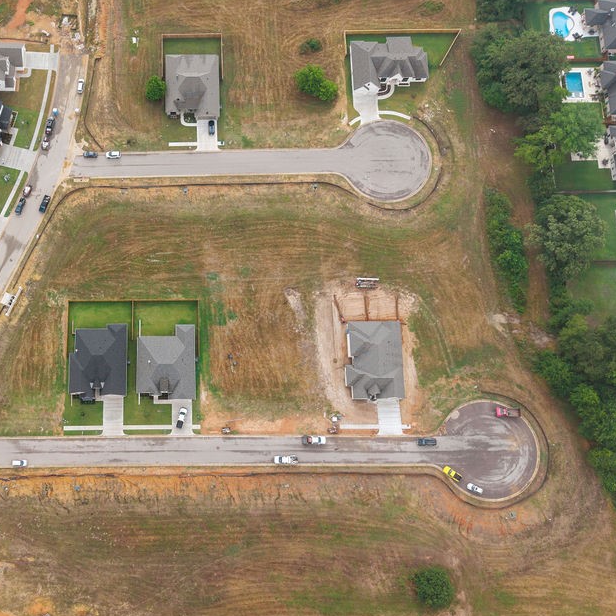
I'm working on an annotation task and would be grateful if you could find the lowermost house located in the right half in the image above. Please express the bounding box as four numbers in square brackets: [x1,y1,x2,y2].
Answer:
[345,321,404,398]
